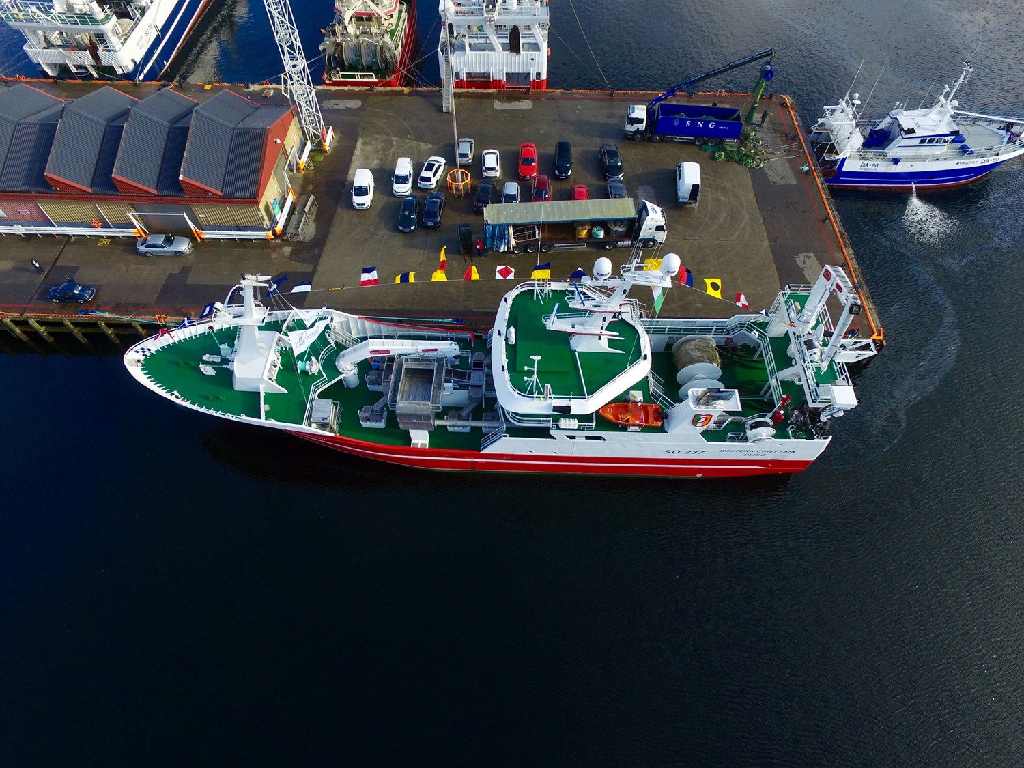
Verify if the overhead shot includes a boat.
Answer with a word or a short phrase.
Yes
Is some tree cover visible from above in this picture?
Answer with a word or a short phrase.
No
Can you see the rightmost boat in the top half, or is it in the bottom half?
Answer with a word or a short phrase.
top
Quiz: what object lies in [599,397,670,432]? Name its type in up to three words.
boat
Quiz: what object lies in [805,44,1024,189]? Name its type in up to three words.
boat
